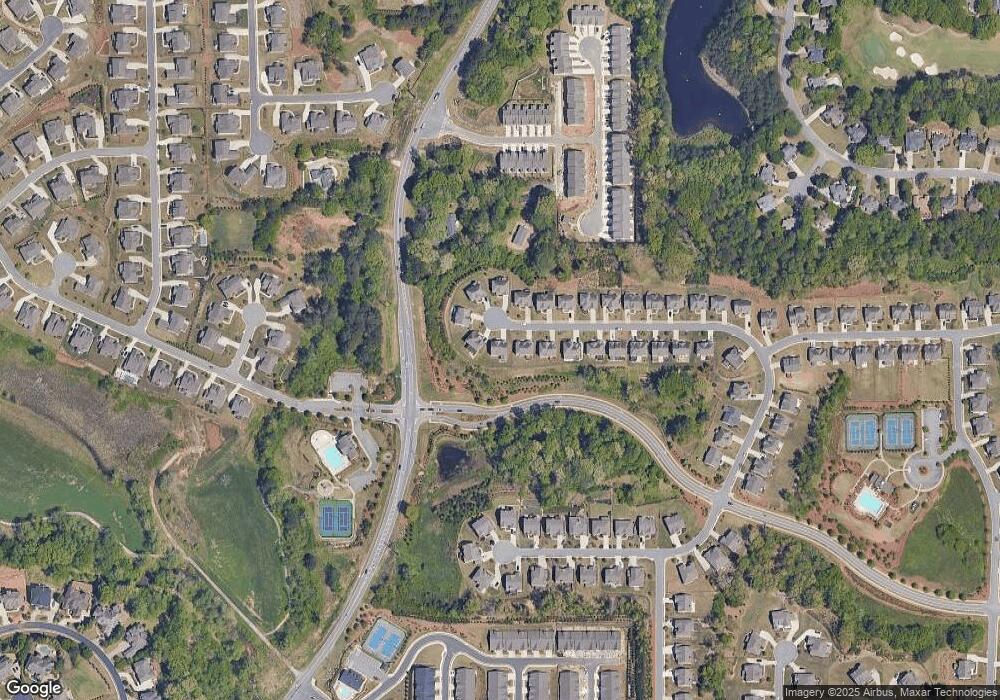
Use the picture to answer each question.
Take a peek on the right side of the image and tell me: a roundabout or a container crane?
roundabout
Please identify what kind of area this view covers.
residential area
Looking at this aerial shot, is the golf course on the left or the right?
right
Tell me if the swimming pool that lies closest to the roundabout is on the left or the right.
right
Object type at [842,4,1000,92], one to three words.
golf course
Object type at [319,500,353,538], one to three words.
tennis court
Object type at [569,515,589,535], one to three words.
house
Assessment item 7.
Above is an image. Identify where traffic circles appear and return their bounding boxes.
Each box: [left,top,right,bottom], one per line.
[904,442,966,490]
